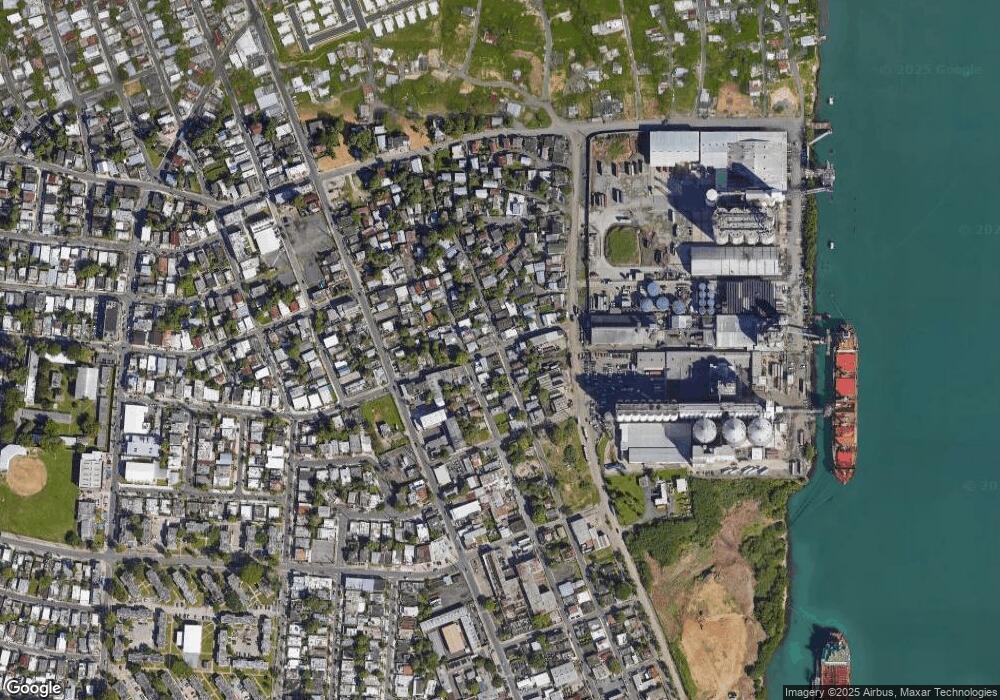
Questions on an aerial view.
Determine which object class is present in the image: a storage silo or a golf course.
storage silo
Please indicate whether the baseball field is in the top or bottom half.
bottom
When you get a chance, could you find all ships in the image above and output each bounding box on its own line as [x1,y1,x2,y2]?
[834,321,862,484]
[820,629,853,700]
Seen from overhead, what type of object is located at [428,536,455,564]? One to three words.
house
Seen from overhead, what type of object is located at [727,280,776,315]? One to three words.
building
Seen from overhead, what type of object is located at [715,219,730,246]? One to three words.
silo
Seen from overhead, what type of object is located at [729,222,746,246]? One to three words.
silo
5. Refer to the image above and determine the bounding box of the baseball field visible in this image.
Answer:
[0,446,77,546]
